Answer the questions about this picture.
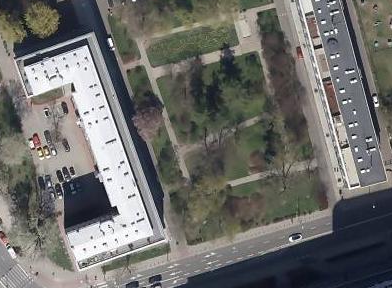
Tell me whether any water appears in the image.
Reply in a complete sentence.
No, water can't be seen anywhere here.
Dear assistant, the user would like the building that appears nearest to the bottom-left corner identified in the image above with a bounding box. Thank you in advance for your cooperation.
[11,32,166,273]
